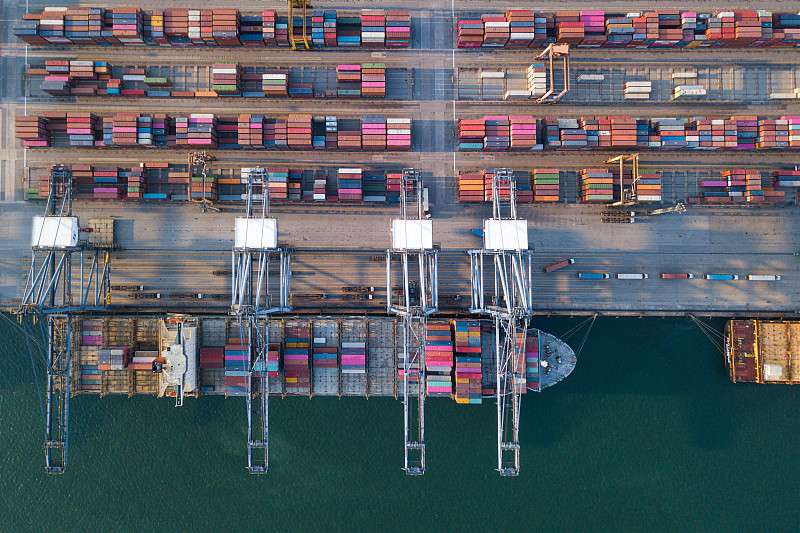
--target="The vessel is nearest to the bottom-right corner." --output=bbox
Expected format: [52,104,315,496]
[723,320,800,386]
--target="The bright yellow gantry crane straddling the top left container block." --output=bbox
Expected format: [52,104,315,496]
[286,0,313,49]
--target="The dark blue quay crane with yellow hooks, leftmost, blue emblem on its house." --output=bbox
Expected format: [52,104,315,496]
[13,163,120,474]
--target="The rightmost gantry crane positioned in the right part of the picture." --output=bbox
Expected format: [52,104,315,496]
[603,152,639,206]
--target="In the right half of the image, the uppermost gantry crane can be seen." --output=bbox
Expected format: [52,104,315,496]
[537,41,570,102]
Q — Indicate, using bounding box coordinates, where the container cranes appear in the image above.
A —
[184,148,215,204]
[13,163,120,474]
[465,166,536,477]
[603,152,639,206]
[286,0,313,49]
[537,41,570,102]
[381,165,442,476]
[227,163,298,475]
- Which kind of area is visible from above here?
port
